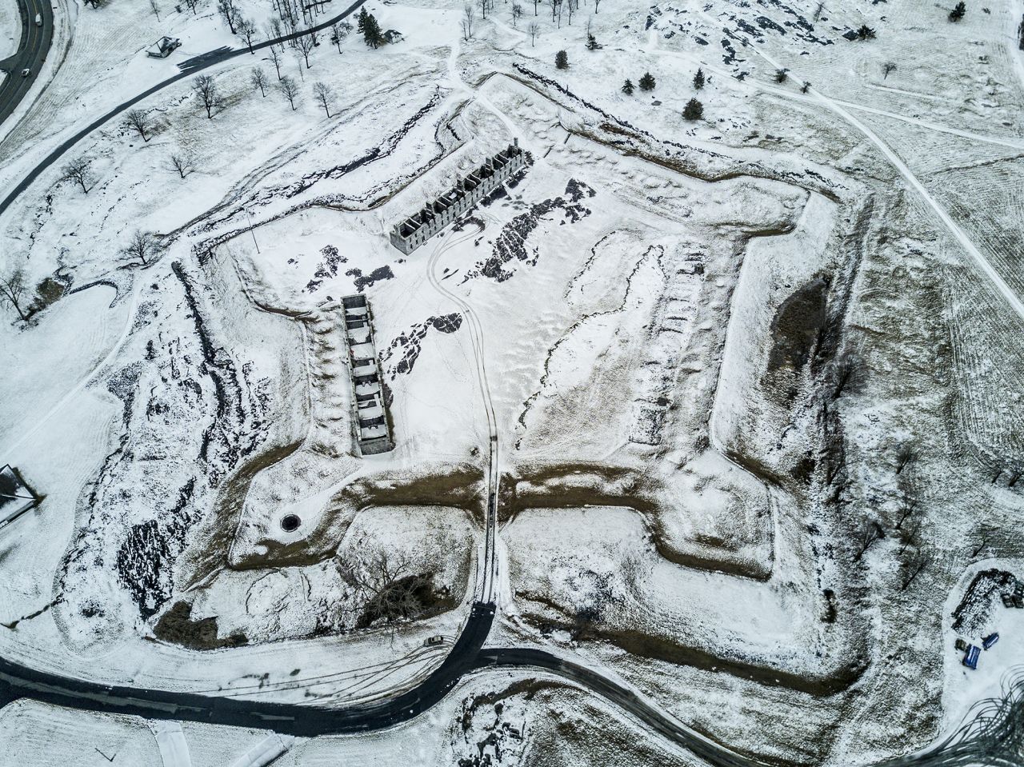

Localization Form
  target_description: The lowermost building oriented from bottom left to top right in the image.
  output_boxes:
[384,134,525,254]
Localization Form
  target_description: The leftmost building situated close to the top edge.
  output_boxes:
[146,37,184,58]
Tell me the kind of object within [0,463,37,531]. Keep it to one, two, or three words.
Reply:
building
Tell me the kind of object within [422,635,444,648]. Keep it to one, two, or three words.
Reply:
vehicle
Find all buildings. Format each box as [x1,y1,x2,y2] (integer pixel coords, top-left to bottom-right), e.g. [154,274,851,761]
[341,293,392,451]
[384,29,402,44]
[0,463,37,531]
[146,37,184,58]
[384,134,525,254]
